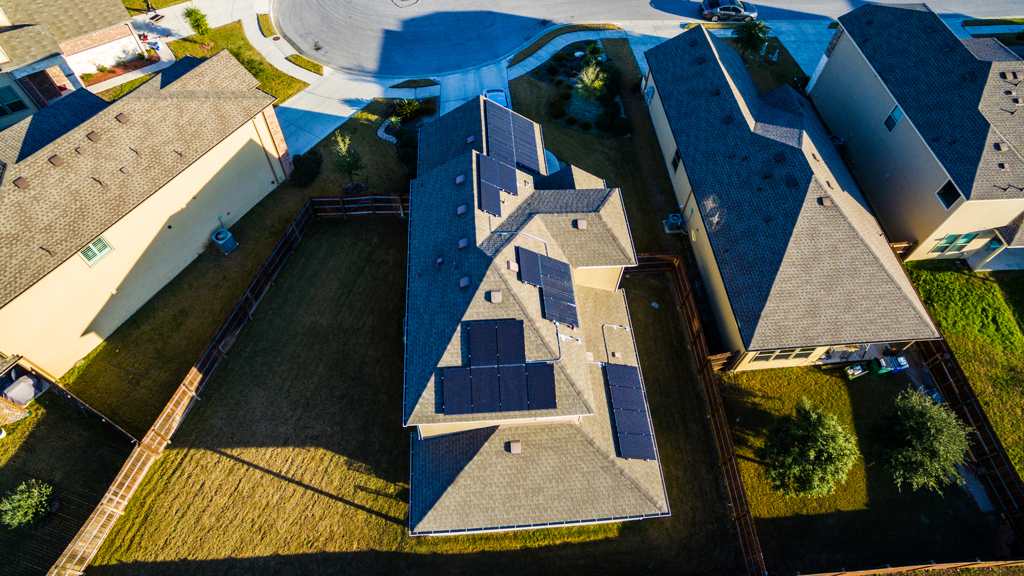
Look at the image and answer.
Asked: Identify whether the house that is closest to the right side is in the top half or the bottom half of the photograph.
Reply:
top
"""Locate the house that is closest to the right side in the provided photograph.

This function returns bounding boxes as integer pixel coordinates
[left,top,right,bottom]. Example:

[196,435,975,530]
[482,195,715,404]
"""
[813,3,1024,270]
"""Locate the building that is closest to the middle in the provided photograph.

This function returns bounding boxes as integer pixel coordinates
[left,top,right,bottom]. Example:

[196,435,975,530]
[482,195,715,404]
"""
[400,92,674,540]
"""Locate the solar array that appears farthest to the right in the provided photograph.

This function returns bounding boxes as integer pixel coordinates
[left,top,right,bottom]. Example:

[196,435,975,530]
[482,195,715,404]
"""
[608,362,658,462]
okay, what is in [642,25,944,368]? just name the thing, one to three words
house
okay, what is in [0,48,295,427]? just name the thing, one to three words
house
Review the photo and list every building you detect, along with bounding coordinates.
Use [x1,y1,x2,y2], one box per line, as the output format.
[813,3,1024,270]
[400,92,674,540]
[0,48,295,427]
[642,25,944,368]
